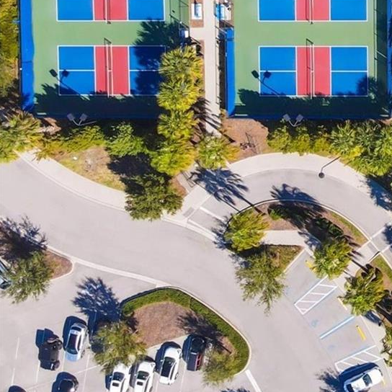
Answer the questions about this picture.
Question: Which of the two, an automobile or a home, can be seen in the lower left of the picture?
automobile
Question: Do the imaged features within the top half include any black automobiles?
No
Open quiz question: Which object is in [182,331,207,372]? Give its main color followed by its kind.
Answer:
black car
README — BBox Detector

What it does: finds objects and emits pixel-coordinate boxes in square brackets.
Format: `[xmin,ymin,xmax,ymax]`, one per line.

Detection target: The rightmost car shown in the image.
[344,365,384,392]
